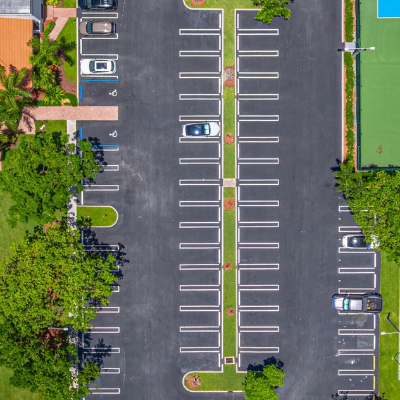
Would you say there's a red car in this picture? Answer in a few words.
No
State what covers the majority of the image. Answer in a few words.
paved ground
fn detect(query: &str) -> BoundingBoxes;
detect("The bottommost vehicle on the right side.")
[334,294,382,313]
